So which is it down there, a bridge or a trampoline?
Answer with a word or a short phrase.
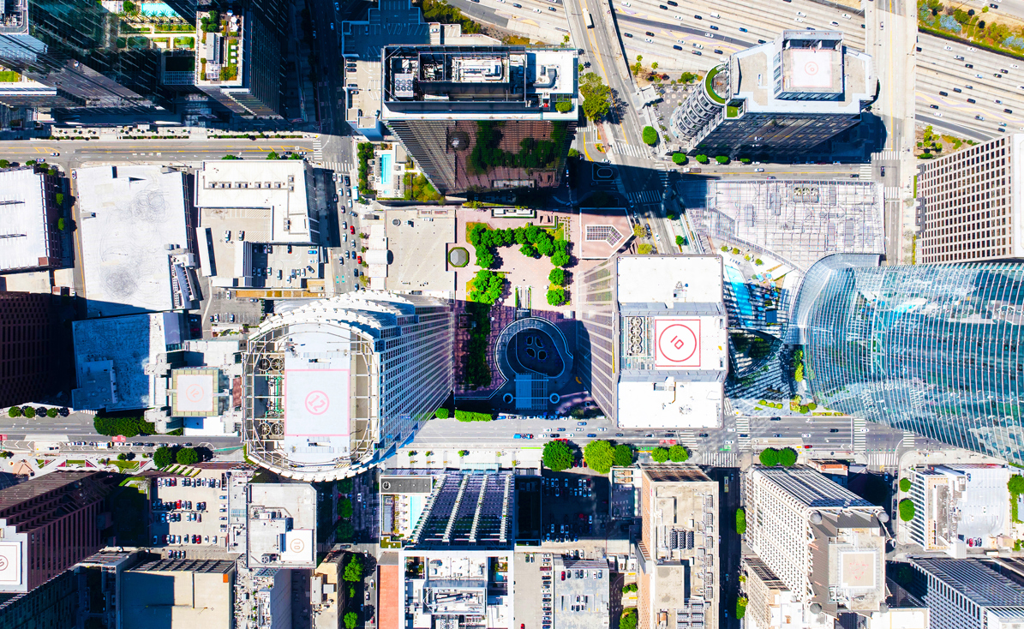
bridge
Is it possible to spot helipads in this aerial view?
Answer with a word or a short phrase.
Yes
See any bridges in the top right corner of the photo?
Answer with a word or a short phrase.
Yes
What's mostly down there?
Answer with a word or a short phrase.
buildings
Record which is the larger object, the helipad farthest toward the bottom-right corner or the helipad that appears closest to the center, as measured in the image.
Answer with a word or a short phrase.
the helipad that appears closest to the center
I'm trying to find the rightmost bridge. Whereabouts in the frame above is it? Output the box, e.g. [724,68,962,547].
[863,0,917,159]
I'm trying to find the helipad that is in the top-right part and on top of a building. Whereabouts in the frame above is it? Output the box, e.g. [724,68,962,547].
[791,49,833,88]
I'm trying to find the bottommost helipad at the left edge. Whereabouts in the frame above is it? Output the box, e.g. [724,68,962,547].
[0,540,23,584]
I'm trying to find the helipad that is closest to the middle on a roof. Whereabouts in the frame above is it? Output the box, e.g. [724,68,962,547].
[655,317,701,368]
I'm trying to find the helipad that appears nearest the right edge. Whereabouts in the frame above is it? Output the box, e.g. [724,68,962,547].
[837,549,877,589]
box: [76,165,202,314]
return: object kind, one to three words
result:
building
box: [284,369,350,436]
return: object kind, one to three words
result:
helipad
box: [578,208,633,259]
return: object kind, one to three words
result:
building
